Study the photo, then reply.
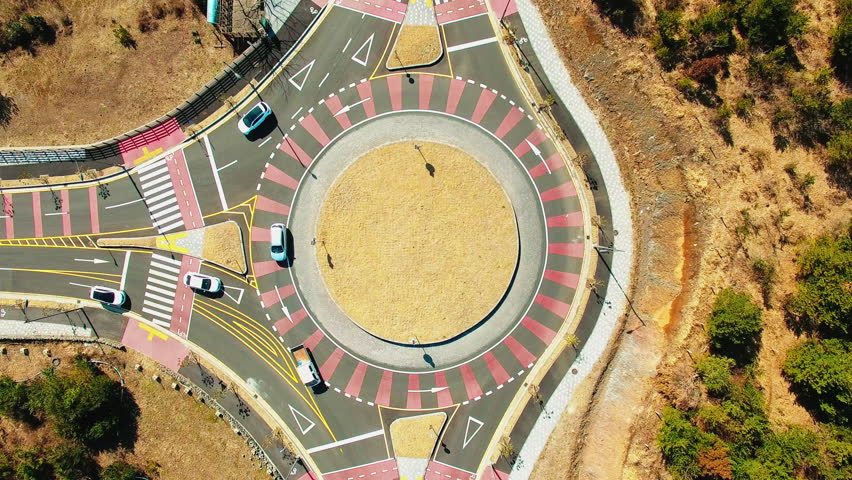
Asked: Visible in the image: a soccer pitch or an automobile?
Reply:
automobile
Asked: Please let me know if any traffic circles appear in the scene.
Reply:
Yes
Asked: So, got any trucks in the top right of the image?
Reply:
No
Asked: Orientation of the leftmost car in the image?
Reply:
horizontally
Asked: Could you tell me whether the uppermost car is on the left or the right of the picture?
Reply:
left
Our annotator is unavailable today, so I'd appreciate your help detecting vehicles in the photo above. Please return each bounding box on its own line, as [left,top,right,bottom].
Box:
[269,223,288,261]
[238,101,273,135]
[87,285,126,306]
[181,271,223,294]
[290,344,320,388]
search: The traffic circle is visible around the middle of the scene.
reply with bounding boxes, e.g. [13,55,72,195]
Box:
[250,74,584,408]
